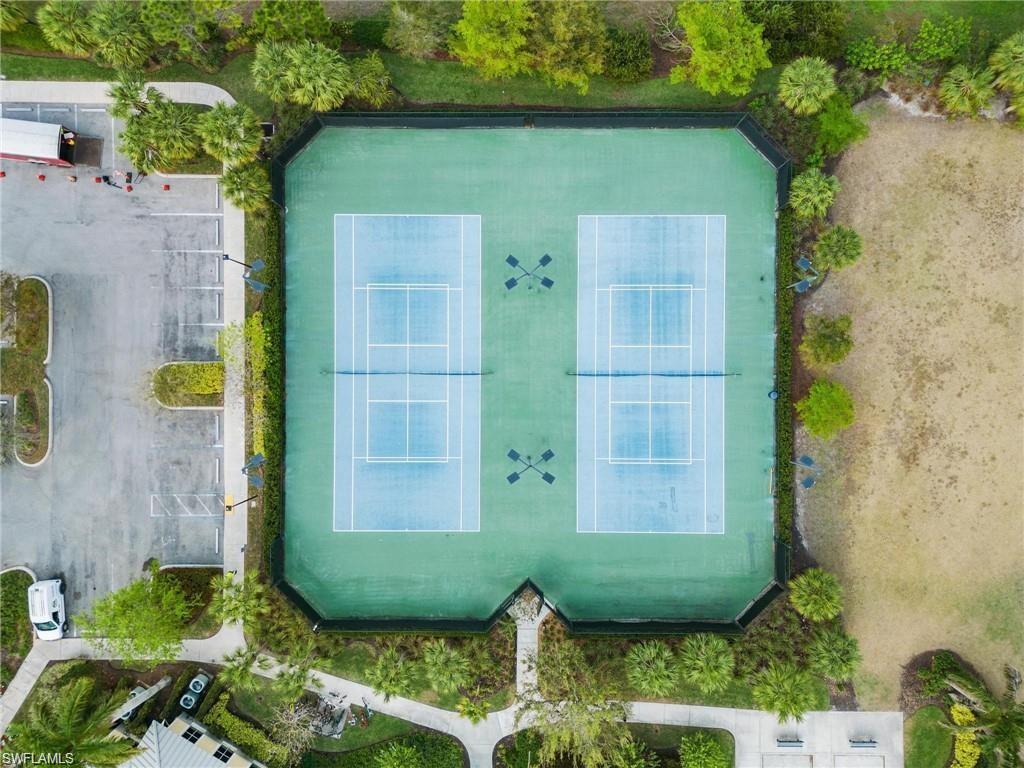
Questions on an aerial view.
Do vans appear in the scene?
Yes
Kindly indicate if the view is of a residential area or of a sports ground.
sports ground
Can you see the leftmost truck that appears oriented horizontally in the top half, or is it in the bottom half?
top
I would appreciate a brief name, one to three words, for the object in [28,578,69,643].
van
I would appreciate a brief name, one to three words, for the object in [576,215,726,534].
tennis court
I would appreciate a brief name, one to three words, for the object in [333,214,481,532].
tennis court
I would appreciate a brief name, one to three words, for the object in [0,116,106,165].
truck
